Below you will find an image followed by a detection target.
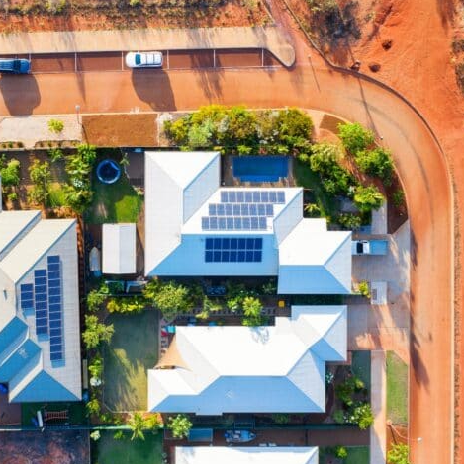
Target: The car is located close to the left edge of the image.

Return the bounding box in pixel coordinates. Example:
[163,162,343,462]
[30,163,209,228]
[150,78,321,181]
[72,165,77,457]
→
[0,57,31,75]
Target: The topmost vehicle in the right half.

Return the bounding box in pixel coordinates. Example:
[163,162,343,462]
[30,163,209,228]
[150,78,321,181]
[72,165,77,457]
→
[352,239,391,258]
